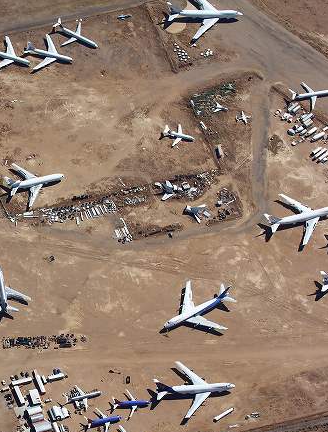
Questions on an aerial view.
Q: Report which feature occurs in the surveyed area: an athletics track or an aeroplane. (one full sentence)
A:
The one in the frame is an aeroplane.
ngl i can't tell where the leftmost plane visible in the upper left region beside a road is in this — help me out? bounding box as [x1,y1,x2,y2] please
[0,36,30,66]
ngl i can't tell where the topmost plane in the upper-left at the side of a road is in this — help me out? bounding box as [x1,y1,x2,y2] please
[51,17,98,48]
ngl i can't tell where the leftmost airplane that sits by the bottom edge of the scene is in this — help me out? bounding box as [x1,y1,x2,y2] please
[64,387,101,411]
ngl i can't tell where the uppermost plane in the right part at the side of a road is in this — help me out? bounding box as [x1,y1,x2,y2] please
[168,0,243,39]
